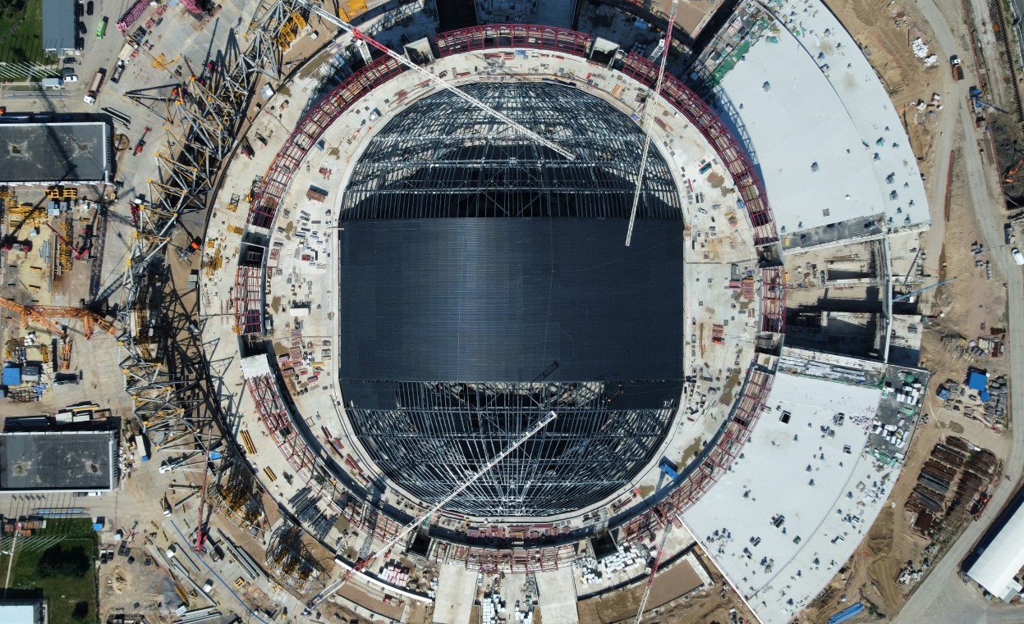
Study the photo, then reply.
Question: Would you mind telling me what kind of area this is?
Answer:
sports ground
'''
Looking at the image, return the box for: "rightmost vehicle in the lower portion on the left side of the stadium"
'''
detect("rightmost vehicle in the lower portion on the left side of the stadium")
[130,435,148,464]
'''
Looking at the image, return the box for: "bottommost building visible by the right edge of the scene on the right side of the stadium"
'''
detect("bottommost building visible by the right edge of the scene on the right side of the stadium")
[954,470,1024,604]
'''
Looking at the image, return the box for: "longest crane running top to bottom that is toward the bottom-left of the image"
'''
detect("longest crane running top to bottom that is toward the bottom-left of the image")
[188,423,222,570]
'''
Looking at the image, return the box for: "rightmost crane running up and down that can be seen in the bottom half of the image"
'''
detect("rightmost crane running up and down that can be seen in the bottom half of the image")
[633,522,672,624]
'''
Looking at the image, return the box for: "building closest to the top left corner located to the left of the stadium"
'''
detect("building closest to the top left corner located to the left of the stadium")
[42,0,82,66]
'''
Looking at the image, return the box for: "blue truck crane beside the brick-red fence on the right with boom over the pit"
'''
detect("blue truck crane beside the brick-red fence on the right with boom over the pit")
[964,82,1009,116]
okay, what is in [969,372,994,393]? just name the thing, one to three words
building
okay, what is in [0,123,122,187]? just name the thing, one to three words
building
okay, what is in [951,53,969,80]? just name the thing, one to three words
vehicle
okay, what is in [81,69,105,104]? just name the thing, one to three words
truck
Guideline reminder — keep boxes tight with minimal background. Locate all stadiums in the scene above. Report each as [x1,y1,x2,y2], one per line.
[193,0,930,624]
